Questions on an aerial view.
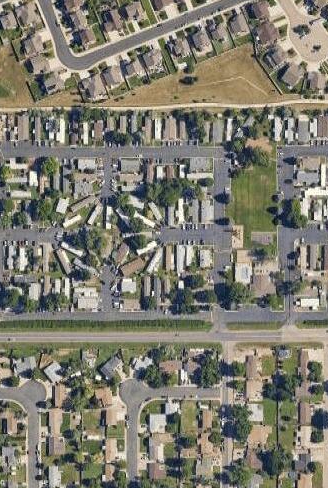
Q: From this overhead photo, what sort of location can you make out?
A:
residential area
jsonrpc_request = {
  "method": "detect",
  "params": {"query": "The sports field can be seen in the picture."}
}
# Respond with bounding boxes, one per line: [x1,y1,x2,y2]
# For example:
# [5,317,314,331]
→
[232,165,276,231]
